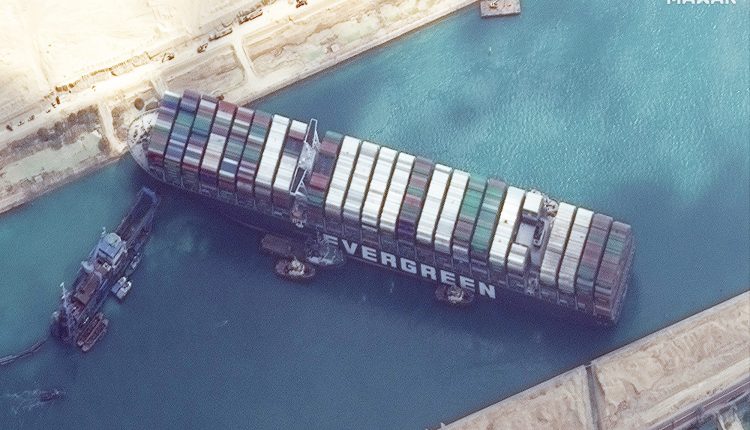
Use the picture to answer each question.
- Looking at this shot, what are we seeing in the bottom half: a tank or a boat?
boat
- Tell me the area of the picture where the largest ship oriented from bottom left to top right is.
left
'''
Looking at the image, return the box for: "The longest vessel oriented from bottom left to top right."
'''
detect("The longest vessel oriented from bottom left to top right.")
[46,180,158,338]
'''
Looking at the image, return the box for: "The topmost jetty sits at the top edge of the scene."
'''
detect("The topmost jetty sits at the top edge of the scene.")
[481,0,522,21]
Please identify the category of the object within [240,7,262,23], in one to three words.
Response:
vehicle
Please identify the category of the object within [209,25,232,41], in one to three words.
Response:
vehicle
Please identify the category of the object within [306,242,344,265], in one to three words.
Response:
boat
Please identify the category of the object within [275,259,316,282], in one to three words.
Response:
boat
